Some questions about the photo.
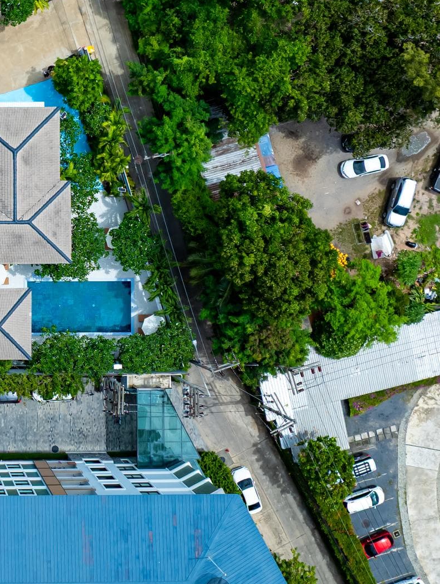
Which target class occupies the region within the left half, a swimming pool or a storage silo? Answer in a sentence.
What appears within the left half is a swimming pool.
